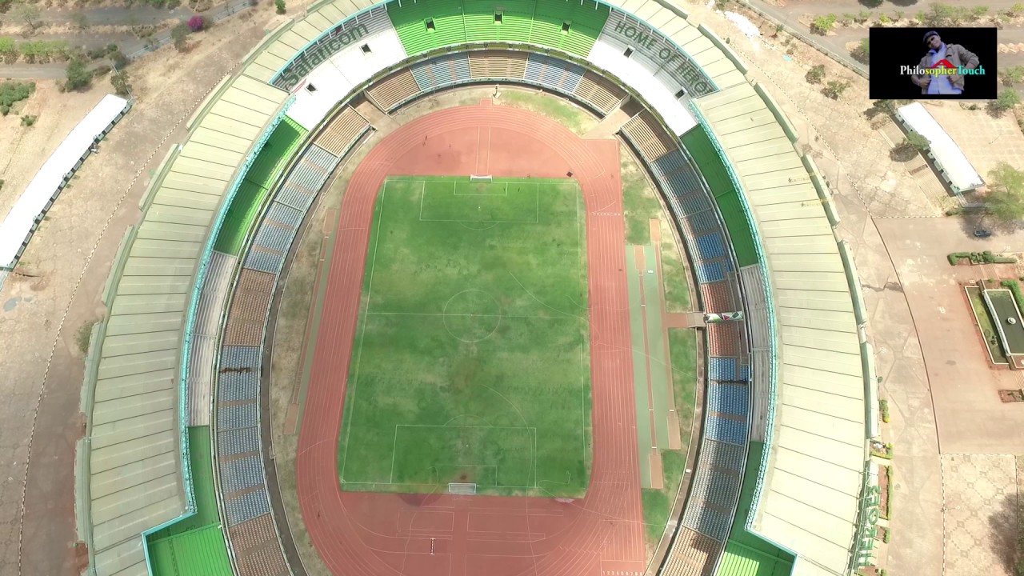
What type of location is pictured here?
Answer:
sports ground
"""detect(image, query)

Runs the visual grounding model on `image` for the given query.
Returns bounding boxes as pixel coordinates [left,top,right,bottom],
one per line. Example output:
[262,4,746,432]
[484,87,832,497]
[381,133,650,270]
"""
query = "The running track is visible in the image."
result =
[294,95,647,576]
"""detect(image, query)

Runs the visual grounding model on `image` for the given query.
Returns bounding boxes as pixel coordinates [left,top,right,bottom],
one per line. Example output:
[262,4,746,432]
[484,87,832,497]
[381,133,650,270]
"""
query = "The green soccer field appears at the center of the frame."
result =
[338,175,594,499]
